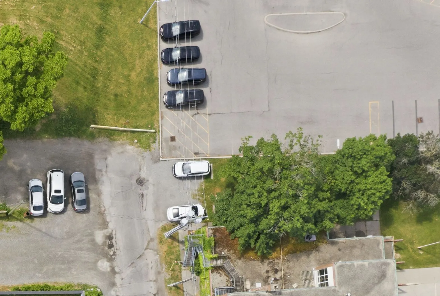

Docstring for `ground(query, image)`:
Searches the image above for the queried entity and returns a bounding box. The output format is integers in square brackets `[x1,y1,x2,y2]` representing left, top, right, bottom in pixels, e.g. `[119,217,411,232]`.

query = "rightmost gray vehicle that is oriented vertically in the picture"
[68,172,88,214]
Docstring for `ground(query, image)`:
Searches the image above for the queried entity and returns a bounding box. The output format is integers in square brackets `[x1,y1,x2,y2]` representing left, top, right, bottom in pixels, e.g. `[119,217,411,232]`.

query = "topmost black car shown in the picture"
[157,19,201,42]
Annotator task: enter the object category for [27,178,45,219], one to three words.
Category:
car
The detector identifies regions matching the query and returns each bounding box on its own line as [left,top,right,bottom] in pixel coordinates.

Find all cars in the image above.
[158,46,200,67]
[160,87,205,111]
[168,158,213,180]
[164,203,206,222]
[27,178,45,219]
[45,169,66,214]
[157,19,201,42]
[163,65,207,88]
[68,172,88,214]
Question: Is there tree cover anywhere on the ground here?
Yes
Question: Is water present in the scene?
No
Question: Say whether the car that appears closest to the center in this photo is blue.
No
